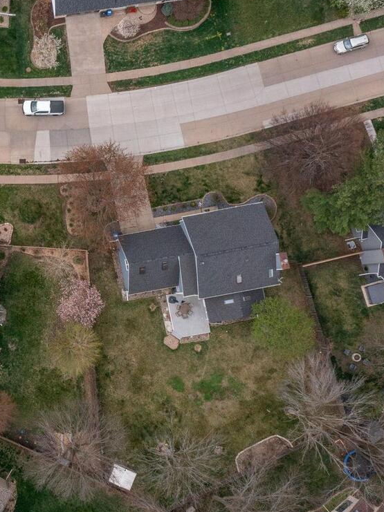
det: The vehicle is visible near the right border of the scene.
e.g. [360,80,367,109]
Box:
[331,33,369,55]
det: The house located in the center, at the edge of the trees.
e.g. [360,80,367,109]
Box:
[110,202,290,325]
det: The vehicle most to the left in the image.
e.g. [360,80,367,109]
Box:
[22,99,65,116]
